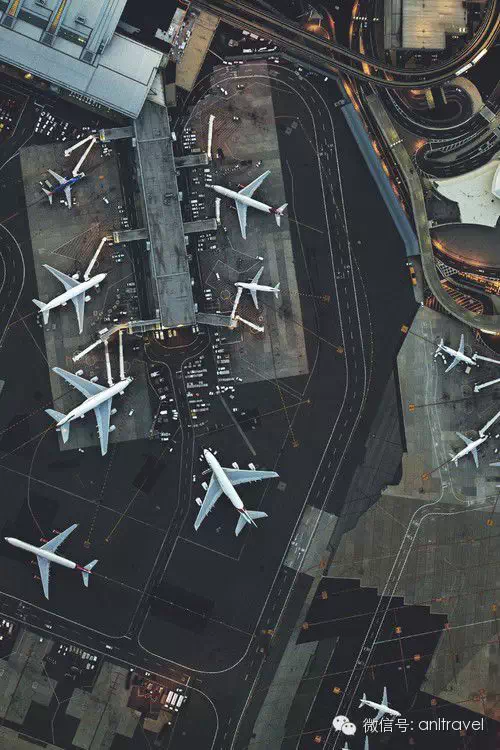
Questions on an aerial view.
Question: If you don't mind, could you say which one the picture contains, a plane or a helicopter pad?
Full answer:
The image shows a plane.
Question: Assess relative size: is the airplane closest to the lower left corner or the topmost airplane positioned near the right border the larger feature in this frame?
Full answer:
The larger object is the airplane closest to the lower left corner, with the topmost airplane positioned near the right border being the smaller of the pair.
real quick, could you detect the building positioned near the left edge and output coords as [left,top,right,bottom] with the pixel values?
[0,0,165,125]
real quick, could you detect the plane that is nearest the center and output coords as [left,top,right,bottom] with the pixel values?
[235,266,280,309]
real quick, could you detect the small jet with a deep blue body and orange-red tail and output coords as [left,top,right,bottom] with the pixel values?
[42,170,82,209]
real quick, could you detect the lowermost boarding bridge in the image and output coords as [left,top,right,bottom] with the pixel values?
[477,412,500,436]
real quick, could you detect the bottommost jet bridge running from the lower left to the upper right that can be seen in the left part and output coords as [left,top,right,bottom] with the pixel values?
[70,338,105,364]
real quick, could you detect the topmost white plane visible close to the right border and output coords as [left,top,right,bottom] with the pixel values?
[436,335,476,371]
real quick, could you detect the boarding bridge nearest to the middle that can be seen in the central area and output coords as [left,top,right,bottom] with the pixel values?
[235,315,266,334]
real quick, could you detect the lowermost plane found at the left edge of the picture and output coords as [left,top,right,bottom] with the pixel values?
[5,523,94,600]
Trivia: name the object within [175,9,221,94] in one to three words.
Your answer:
building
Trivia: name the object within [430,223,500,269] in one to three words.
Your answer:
building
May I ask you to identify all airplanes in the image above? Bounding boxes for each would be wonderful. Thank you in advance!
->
[5,523,94,600]
[195,450,280,532]
[35,264,107,333]
[436,335,476,371]
[448,433,488,467]
[359,689,400,724]
[212,170,287,238]
[235,266,280,309]
[48,369,133,456]
[42,170,82,209]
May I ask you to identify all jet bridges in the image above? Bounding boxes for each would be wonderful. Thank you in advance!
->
[471,353,500,363]
[70,338,105,364]
[83,235,109,279]
[119,331,126,379]
[477,412,500,436]
[214,196,222,224]
[474,378,500,394]
[63,134,97,158]
[73,137,100,178]
[234,284,243,324]
[104,341,113,387]
[208,113,215,160]
[235,315,266,334]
